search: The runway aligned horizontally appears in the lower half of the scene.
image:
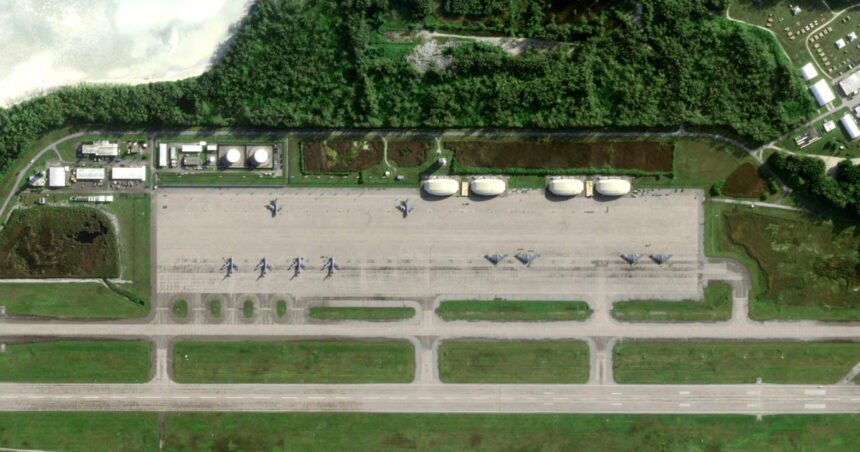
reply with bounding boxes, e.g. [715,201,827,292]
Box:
[0,380,860,418]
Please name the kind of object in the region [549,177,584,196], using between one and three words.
hangar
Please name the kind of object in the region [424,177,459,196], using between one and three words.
hangar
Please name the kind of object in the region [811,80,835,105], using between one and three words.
building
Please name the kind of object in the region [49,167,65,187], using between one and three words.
building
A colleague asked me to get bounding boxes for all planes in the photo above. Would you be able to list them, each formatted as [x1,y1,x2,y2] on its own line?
[485,254,508,263]
[650,254,673,263]
[515,254,538,263]
[223,257,240,276]
[323,257,341,276]
[397,199,416,217]
[621,254,644,263]
[256,258,274,276]
[267,197,285,217]
[290,258,308,276]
